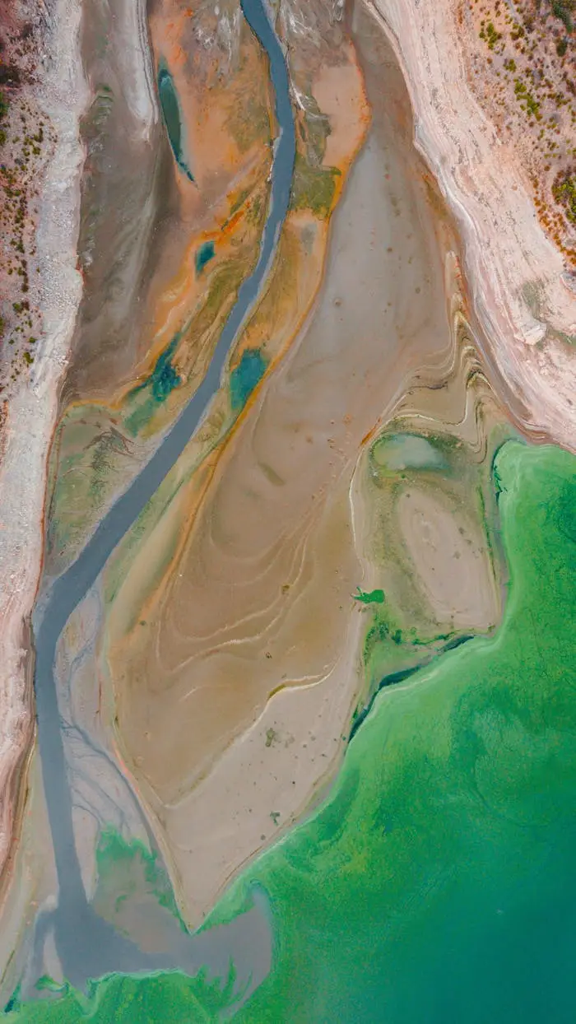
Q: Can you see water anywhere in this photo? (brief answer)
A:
Yes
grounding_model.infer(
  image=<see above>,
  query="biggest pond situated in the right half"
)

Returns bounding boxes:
[372,432,447,472]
